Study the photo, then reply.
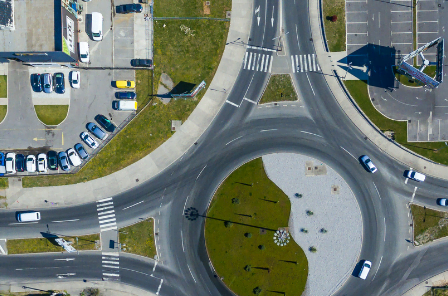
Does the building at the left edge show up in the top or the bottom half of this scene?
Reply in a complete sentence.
The top half of the photo is where the building at the left edge is.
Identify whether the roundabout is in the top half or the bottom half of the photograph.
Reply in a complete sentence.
It is in the bottom half that the roundabout appears.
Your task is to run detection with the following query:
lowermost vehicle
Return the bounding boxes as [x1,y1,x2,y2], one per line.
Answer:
[358,259,372,280]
